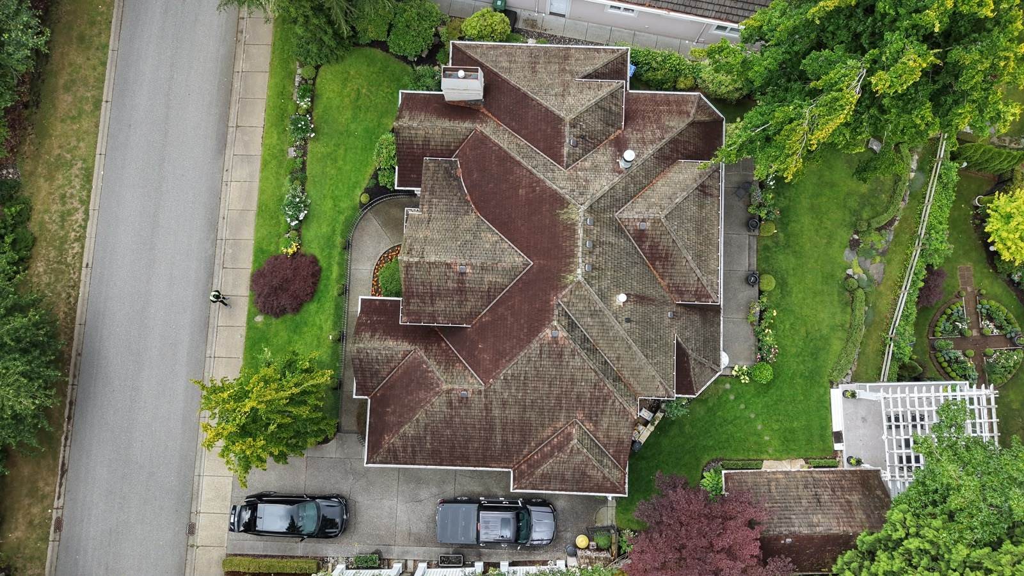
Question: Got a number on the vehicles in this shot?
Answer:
2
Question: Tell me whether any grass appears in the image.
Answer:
Yes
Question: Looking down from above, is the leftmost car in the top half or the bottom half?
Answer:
bottom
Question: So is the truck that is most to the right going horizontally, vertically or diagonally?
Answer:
horizontally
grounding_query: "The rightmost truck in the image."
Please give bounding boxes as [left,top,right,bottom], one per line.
[431,494,562,556]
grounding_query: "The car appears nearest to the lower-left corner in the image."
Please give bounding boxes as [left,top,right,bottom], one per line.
[228,490,350,547]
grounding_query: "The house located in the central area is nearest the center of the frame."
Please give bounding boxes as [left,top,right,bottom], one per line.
[351,40,727,499]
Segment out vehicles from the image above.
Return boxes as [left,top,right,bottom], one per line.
[228,490,350,547]
[431,494,562,556]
